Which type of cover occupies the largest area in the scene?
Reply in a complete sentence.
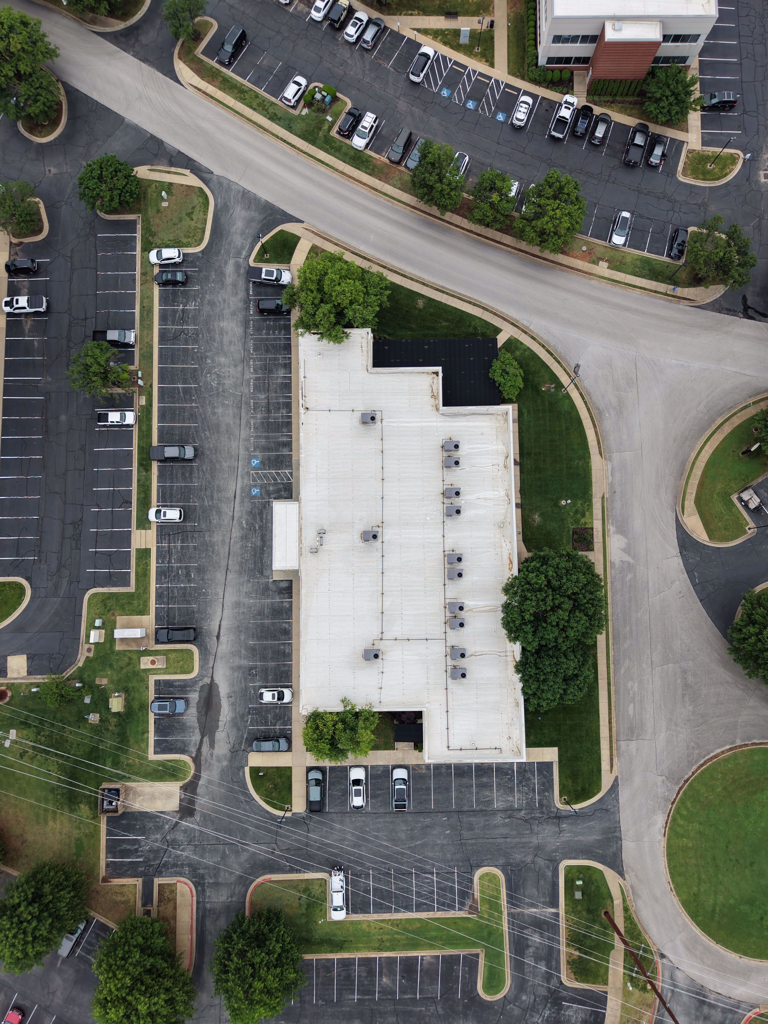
The scene is dominated by paved ground.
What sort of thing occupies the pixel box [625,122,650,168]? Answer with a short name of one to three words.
truck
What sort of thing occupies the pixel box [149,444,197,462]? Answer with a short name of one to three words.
vehicle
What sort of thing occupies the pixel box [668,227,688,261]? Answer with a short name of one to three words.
car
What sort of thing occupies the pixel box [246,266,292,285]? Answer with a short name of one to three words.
vehicle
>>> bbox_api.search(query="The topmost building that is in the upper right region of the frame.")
[535,0,719,89]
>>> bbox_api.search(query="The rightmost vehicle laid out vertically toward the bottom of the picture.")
[391,766,410,813]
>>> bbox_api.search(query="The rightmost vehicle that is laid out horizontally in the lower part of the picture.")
[252,736,290,753]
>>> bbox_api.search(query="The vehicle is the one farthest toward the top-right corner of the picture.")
[702,93,738,112]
